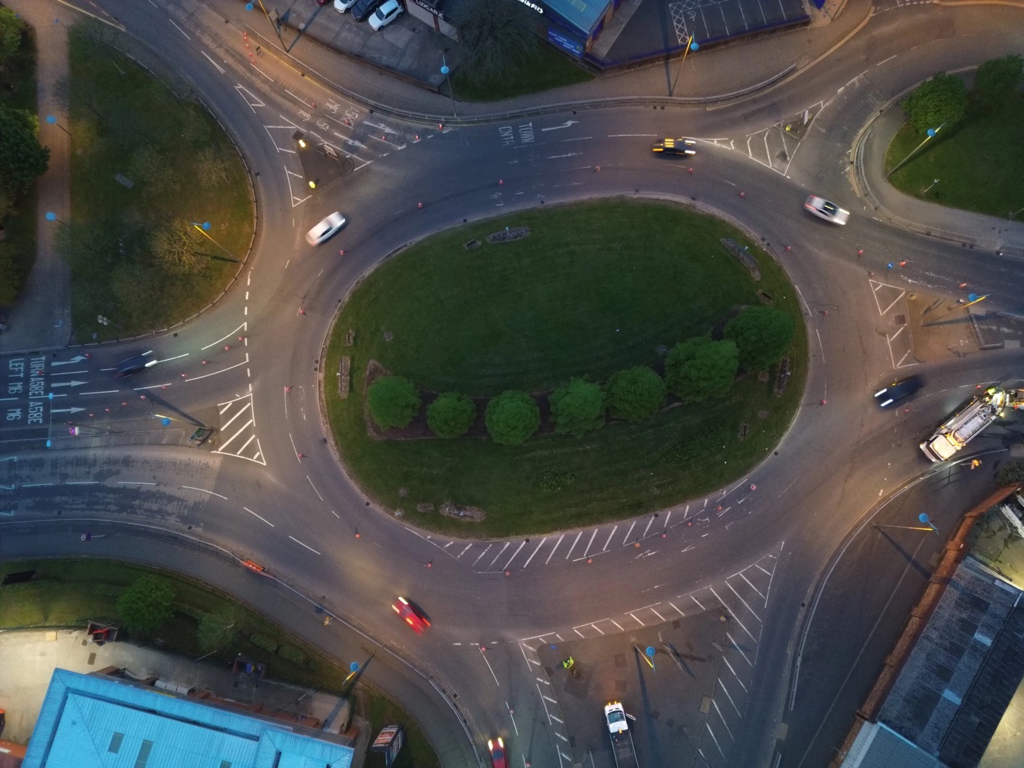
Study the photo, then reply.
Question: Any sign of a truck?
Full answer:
Yes, there's a truck here.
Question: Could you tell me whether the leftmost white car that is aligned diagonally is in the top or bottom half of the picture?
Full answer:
The leftmost white car that is aligned diagonally is in the top half of the image.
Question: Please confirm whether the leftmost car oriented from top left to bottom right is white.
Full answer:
No, the leftmost car oriented from top left to bottom right is actually red.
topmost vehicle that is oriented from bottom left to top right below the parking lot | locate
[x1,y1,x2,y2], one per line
[307,213,347,246]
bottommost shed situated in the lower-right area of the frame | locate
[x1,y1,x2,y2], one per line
[814,705,940,768]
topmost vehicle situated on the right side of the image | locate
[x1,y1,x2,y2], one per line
[654,139,694,159]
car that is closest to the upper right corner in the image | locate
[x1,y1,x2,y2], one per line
[805,197,848,225]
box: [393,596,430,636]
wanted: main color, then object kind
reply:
red car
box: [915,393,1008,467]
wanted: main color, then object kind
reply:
white truck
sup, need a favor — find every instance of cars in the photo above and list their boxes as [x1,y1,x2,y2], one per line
[307,213,347,246]
[335,0,360,12]
[352,0,388,20]
[393,596,430,636]
[369,0,405,29]
[315,0,333,7]
[654,139,694,159]
[876,377,922,404]
[805,197,848,225]
[486,736,508,768]
[115,352,156,377]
